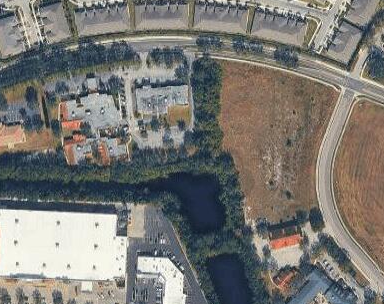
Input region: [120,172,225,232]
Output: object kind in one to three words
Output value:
pond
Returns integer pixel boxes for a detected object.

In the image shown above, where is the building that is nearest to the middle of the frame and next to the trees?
[136,85,189,113]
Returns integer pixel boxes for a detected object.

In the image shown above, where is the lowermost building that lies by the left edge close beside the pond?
[0,209,128,292]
